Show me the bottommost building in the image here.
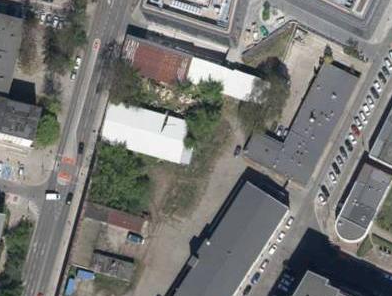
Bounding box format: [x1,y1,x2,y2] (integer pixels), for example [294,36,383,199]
[295,271,340,296]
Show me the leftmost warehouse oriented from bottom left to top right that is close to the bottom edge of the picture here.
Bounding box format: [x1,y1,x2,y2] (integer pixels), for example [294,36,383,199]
[166,183,289,296]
